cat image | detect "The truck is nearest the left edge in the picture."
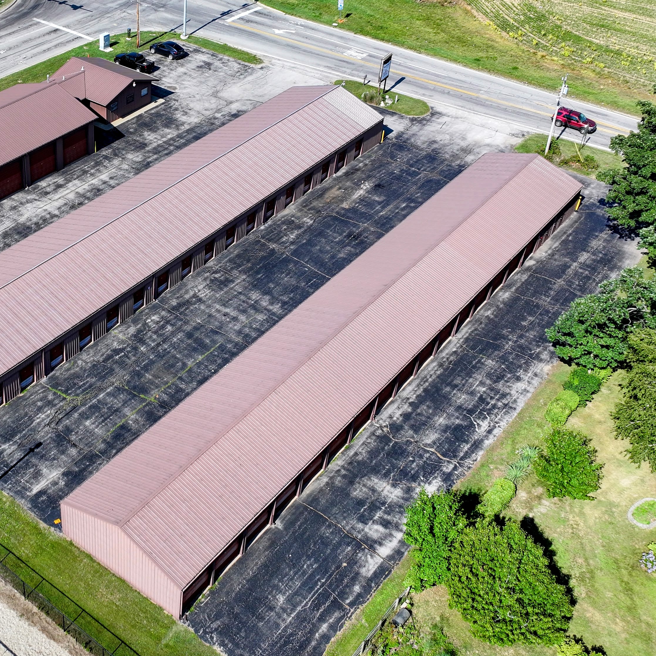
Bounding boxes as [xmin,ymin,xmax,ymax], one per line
[113,50,154,72]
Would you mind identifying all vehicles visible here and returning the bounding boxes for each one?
[148,41,186,60]
[113,50,154,72]
[550,106,600,134]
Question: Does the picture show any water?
No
